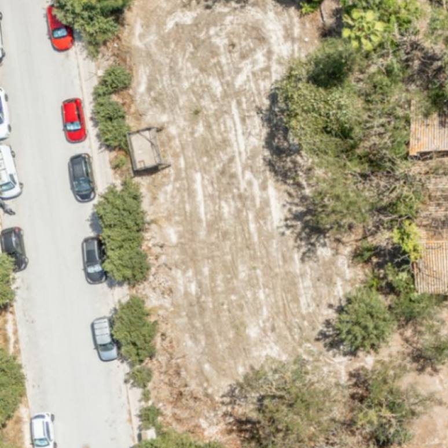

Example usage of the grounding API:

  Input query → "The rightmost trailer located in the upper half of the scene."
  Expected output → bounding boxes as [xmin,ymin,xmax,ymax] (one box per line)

[123,128,171,172]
